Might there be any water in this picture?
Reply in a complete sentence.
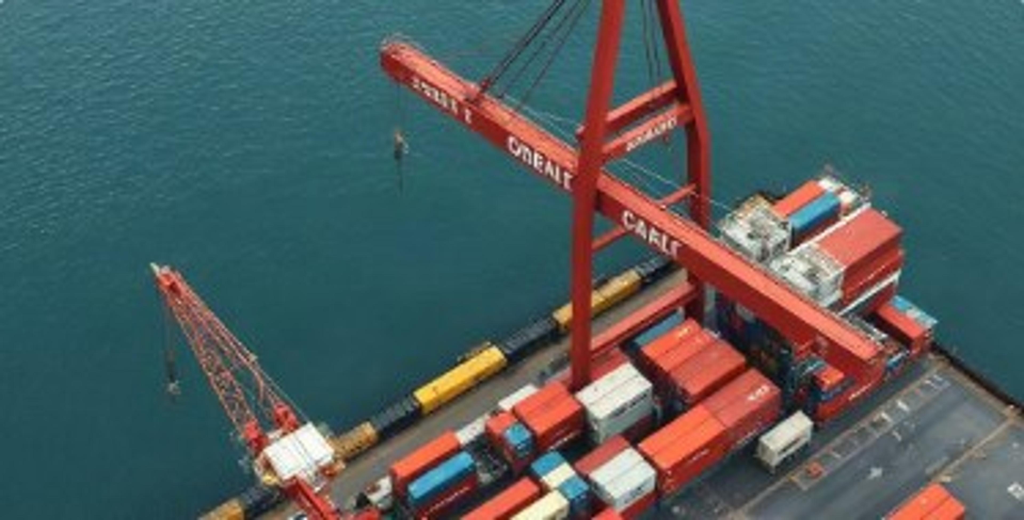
Yes, water can be seen from above here.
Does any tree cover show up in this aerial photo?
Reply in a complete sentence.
No, tree cover can't be seen anywhere here.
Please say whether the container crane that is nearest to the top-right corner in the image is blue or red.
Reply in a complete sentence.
In this view, the container crane that is nearest to the top-right corner is red.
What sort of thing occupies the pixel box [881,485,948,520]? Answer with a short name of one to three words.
shipping container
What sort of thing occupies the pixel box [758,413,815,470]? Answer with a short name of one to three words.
trailer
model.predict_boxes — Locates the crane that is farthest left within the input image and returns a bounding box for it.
[141,260,361,520]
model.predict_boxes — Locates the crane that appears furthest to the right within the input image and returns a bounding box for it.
[381,0,885,425]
